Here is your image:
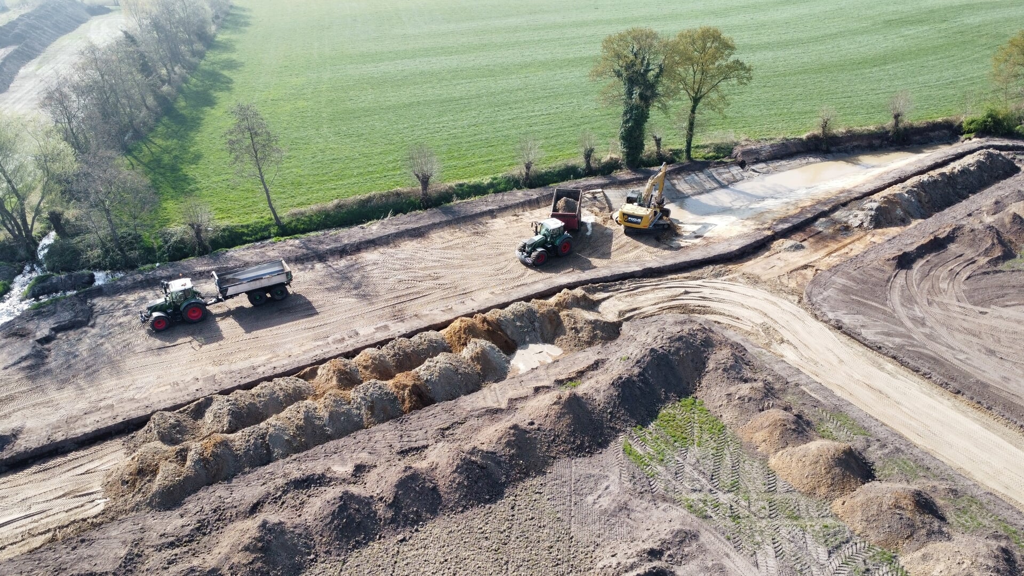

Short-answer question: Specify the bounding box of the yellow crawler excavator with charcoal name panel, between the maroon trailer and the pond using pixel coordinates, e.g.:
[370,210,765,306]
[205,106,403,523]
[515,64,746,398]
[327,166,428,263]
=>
[616,159,674,233]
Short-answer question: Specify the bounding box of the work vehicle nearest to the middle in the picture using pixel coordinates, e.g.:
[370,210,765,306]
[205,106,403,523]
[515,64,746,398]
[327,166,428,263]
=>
[518,214,575,266]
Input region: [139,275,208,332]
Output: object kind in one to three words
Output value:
work vehicle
